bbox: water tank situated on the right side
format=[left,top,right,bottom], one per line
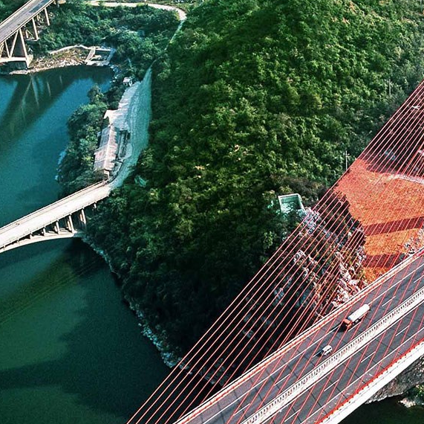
[278,192,308,227]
